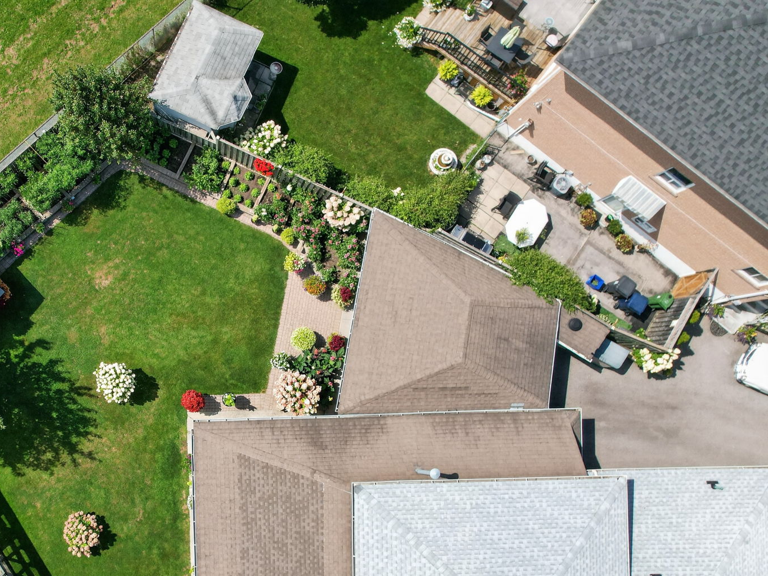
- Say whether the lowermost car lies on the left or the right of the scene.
right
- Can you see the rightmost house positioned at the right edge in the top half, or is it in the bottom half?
top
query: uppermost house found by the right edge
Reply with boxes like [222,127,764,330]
[497,0,768,327]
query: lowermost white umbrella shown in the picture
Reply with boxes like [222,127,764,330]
[492,198,548,248]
